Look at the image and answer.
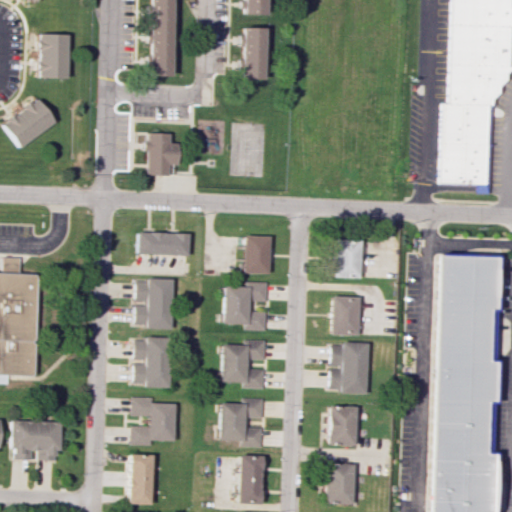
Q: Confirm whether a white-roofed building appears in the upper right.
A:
Yes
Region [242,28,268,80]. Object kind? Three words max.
building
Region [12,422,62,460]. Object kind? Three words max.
house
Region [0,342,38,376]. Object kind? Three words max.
building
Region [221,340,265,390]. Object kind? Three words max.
house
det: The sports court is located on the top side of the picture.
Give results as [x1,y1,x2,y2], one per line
[231,123,264,178]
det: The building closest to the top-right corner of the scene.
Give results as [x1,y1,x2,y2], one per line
[438,0,512,194]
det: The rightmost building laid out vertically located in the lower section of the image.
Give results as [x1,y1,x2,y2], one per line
[431,254,504,512]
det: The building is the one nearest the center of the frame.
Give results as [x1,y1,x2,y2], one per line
[244,236,270,274]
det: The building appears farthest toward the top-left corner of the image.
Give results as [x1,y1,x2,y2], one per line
[36,34,70,79]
